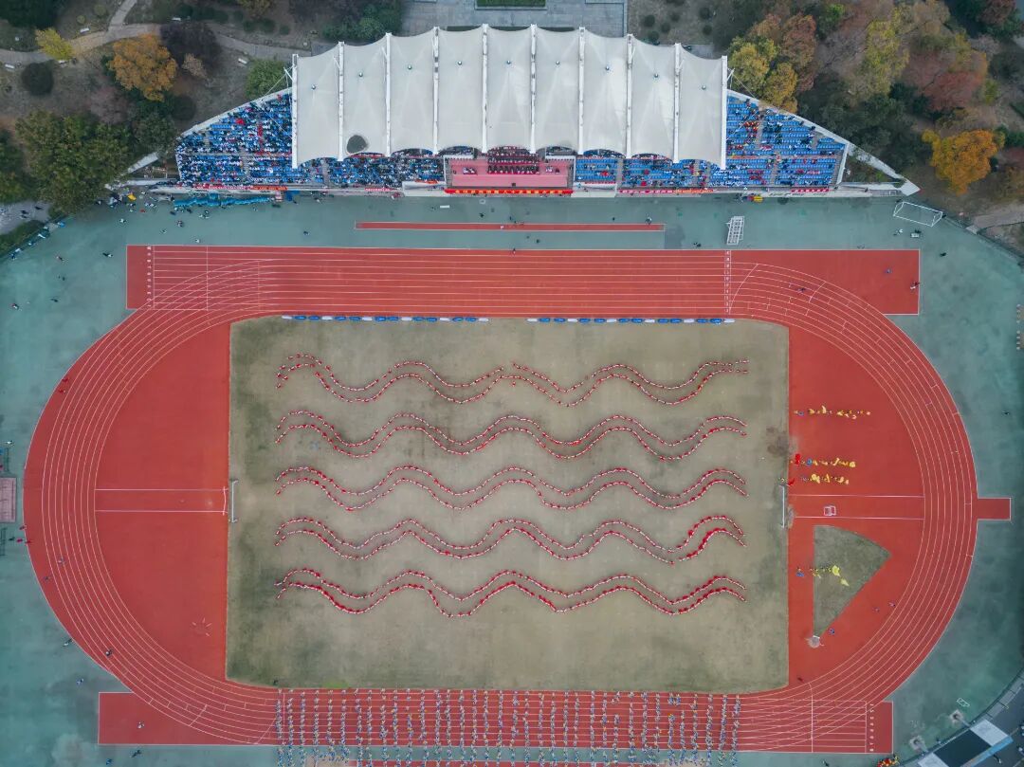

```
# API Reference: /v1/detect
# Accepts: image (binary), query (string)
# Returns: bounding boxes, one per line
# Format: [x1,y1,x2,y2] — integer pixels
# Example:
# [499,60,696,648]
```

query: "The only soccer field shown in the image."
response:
[226,315,790,693]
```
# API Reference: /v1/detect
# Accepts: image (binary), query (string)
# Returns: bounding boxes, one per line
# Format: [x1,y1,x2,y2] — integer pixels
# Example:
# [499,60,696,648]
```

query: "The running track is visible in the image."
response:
[24,245,1011,751]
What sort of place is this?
sports ground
